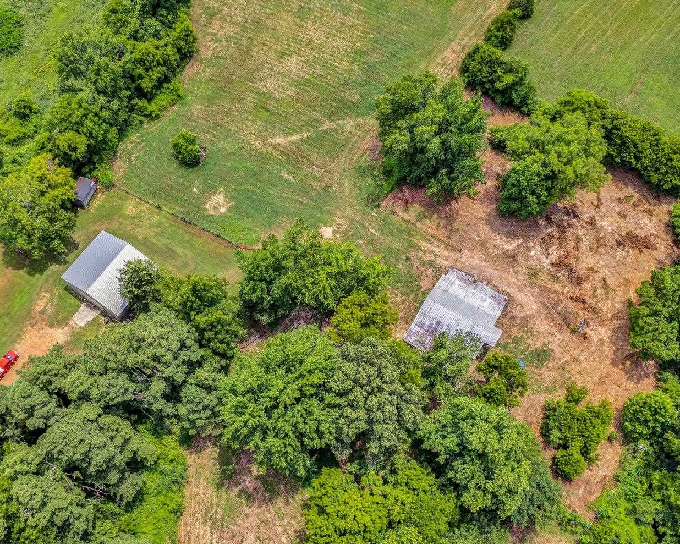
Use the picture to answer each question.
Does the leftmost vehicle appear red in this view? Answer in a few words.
Yes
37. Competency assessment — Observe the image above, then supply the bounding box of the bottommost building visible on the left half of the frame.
[61,229,161,314]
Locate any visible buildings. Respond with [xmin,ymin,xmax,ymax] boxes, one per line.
[405,269,508,362]
[61,229,161,314]
[67,174,95,207]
